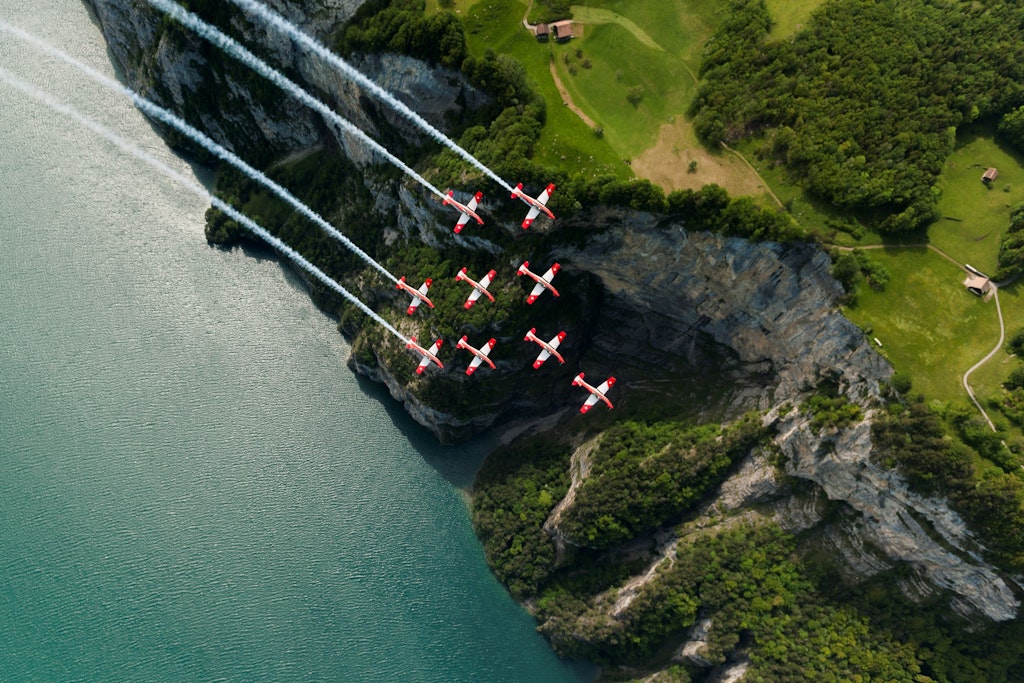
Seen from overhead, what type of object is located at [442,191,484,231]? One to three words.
airplane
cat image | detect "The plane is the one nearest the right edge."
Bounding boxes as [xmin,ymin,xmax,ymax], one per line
[571,373,614,412]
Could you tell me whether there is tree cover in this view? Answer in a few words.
Yes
